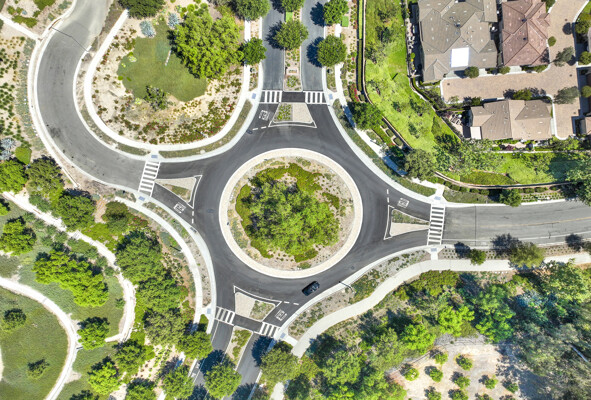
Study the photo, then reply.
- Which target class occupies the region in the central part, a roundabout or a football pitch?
roundabout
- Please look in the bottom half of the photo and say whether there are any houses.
No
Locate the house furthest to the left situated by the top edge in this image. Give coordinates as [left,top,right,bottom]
[417,0,497,83]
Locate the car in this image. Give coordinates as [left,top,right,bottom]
[301,281,320,297]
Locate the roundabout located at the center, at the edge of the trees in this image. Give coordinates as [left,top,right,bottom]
[138,91,431,337]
